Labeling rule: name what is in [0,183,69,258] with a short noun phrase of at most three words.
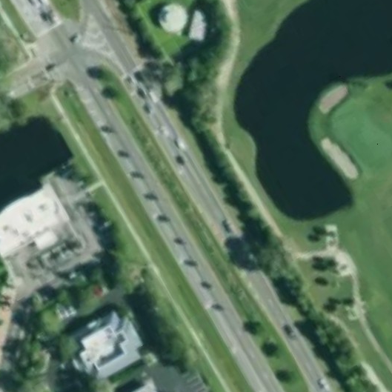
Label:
building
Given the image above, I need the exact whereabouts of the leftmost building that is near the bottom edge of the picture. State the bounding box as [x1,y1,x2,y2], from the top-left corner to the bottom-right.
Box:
[68,312,143,379]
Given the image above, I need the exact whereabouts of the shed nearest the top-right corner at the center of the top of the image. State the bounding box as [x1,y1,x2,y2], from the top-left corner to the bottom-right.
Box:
[188,10,205,42]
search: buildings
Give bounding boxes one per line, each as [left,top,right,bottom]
[68,312,143,379]
[188,10,205,42]
[0,183,69,258]
[135,379,157,392]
